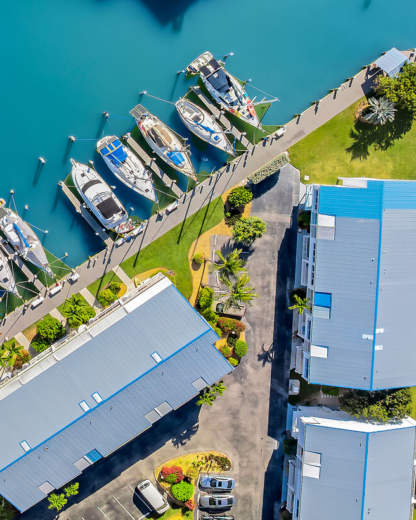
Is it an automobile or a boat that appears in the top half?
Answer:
boat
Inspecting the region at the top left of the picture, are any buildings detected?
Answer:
No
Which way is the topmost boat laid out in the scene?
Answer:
diagonally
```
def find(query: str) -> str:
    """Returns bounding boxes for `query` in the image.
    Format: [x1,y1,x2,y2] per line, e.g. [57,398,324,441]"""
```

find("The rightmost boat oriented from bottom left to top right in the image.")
[183,51,212,76]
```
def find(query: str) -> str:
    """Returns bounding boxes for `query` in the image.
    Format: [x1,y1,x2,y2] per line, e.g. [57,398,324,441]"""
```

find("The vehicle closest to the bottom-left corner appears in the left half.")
[138,477,169,515]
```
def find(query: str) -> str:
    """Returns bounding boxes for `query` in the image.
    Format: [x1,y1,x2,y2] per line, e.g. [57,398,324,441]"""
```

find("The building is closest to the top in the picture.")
[367,47,410,81]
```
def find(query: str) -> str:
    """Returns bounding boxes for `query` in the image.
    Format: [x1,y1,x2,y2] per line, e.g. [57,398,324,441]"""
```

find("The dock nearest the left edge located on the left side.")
[0,233,48,291]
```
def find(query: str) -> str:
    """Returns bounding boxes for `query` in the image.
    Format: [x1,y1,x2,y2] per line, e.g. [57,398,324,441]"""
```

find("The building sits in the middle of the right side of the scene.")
[288,178,416,392]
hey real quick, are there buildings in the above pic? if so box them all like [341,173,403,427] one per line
[0,275,234,513]
[281,398,416,520]
[367,47,410,81]
[288,178,416,392]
